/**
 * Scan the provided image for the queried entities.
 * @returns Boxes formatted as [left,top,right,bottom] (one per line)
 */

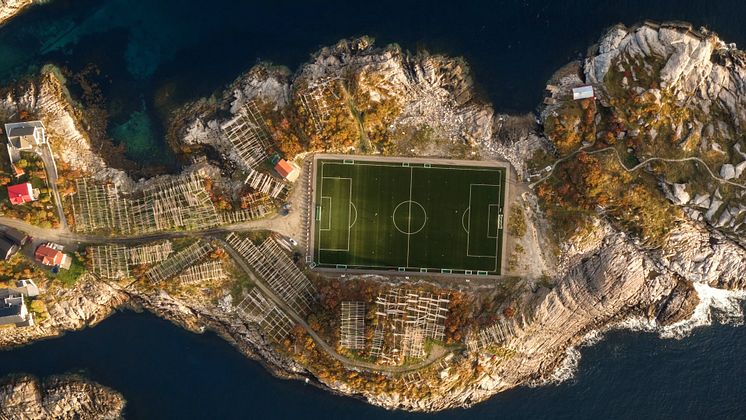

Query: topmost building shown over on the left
[6,119,46,151]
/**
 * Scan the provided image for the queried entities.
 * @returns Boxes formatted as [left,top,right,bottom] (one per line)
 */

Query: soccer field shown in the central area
[309,155,514,280]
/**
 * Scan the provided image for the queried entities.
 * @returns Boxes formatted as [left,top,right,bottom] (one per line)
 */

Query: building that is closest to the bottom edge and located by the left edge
[0,288,35,330]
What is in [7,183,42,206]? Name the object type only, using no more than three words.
house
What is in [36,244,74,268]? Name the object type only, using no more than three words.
house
